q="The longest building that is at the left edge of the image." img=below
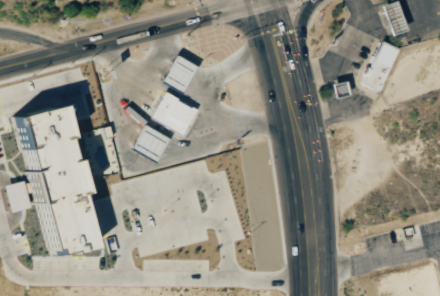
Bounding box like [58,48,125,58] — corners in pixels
[14,106,104,254]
